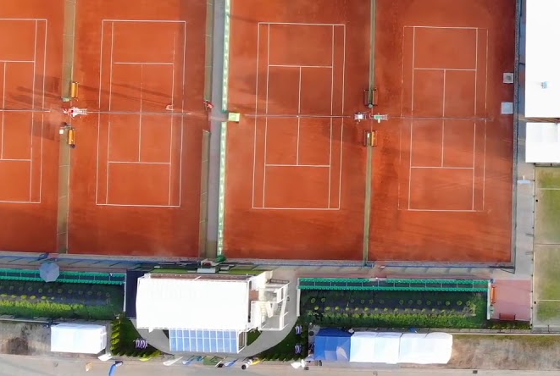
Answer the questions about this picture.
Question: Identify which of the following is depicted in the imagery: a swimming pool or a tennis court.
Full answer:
Visible in the photo is a tennis court.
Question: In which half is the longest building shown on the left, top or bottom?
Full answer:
Seen from above, the longest building shown on the left lies in the bottom half of the view.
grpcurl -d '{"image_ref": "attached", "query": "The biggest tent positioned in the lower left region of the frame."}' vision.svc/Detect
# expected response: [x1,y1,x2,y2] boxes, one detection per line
[52,318,113,355]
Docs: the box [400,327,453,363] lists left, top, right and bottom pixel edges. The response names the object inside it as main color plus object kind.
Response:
white tent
